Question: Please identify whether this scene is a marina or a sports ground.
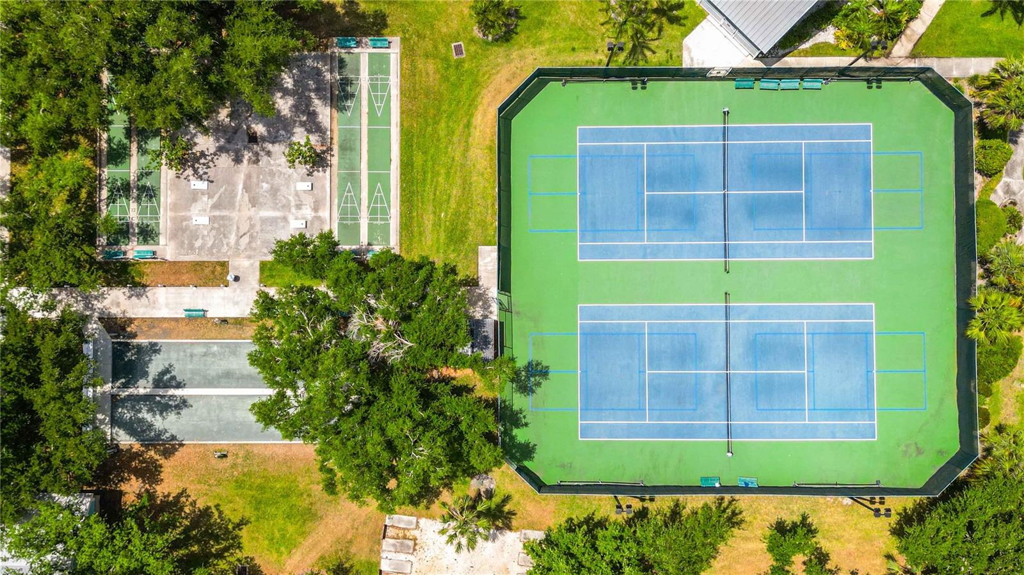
sports ground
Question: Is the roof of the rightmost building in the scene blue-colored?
No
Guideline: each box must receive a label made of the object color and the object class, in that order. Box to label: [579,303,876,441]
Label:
blue tennis court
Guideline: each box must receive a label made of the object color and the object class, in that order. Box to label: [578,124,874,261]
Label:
blue tennis court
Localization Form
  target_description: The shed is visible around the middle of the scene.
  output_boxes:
[466,318,496,356]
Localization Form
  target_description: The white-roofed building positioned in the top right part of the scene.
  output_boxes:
[680,0,822,66]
